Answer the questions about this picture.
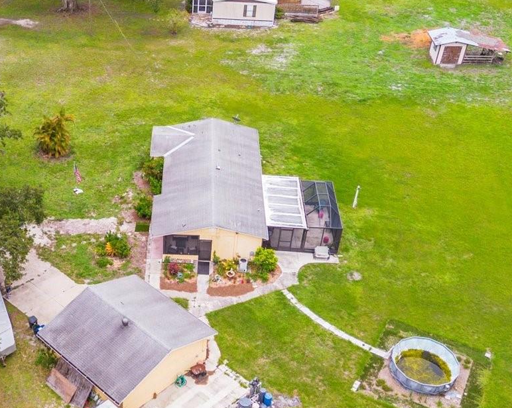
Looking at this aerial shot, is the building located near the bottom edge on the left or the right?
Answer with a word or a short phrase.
left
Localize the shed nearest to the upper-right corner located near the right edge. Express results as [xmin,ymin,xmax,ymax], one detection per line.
[427,25,504,67]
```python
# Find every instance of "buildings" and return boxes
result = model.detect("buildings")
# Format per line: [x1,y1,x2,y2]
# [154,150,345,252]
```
[36,273,217,408]
[149,116,308,262]
[192,0,279,26]
[427,25,504,67]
